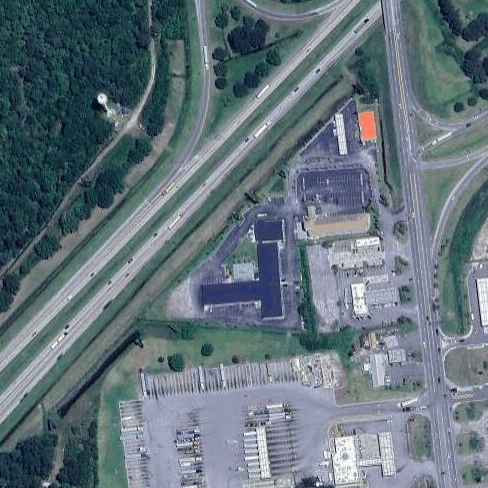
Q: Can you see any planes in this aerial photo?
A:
No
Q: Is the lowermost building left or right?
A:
right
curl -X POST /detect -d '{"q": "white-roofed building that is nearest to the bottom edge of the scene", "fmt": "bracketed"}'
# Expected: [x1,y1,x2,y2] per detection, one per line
[332,435,359,486]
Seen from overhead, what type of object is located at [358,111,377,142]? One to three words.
building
